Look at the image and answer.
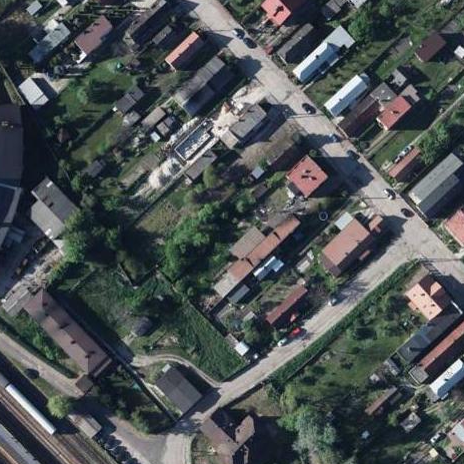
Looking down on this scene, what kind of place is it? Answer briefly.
residential area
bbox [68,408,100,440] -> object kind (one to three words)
shed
